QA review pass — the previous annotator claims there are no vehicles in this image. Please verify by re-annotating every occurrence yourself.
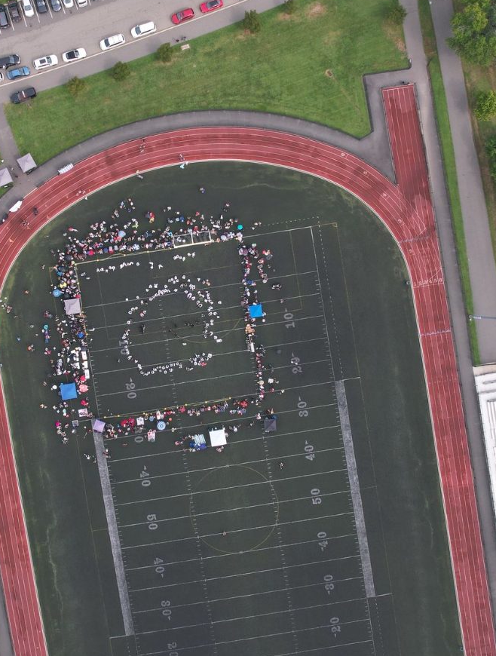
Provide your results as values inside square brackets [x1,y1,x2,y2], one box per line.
[7,67,31,80]
[100,34,125,49]
[131,21,157,38]
[49,0,61,13]
[33,55,59,69]
[35,0,48,15]
[62,48,86,62]
[11,88,37,102]
[77,0,87,8]
[171,8,196,25]
[61,0,73,9]
[0,54,21,68]
[0,5,9,29]
[7,0,22,27]
[200,0,224,14]
[21,0,34,19]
